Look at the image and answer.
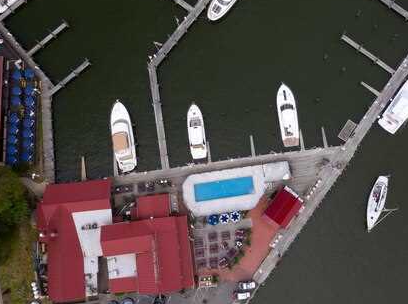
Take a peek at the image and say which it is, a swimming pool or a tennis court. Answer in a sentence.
The image shows a swimming pool.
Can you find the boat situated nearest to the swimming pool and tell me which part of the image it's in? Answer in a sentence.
The boat situated nearest to the swimming pool is in the center part of the image.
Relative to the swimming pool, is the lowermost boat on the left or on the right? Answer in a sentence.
From the viewer's perspective, the lowermost boat falls to the right of the swimming pool.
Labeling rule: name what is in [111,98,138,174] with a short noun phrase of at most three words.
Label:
boat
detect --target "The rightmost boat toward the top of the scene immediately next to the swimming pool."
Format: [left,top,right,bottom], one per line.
[276,83,300,148]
